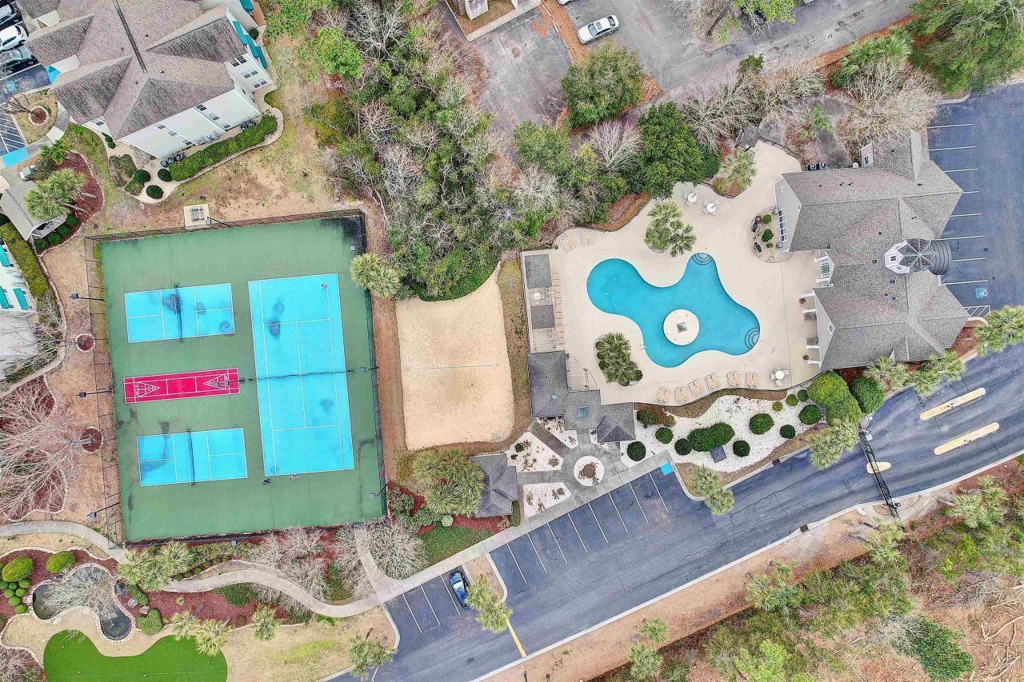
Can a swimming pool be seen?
Yes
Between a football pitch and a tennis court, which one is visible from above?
tennis court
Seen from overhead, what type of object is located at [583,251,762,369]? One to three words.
swimming pool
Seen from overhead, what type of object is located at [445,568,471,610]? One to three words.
car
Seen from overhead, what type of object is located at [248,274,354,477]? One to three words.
tennis court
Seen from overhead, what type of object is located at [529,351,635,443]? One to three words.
building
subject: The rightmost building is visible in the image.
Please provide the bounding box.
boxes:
[771,111,970,370]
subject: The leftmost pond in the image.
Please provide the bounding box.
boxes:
[30,564,134,642]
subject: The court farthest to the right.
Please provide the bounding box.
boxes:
[397,274,515,450]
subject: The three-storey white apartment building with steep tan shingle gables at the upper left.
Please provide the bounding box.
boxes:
[11,0,274,158]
